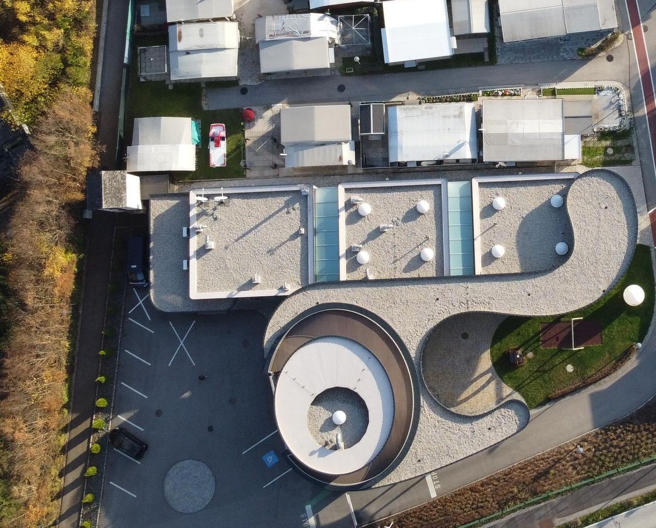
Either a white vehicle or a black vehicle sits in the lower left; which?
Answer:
black vehicle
